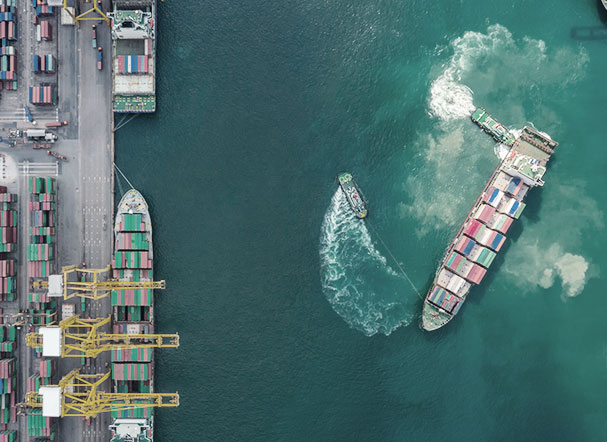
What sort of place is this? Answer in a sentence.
This looks like a port.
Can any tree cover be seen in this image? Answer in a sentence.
No, there's no tree cover in this view.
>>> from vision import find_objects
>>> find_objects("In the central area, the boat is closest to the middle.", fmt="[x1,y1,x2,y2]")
[338,171,367,217]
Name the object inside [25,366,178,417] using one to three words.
container crane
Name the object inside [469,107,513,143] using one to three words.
boat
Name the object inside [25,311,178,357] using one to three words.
container crane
